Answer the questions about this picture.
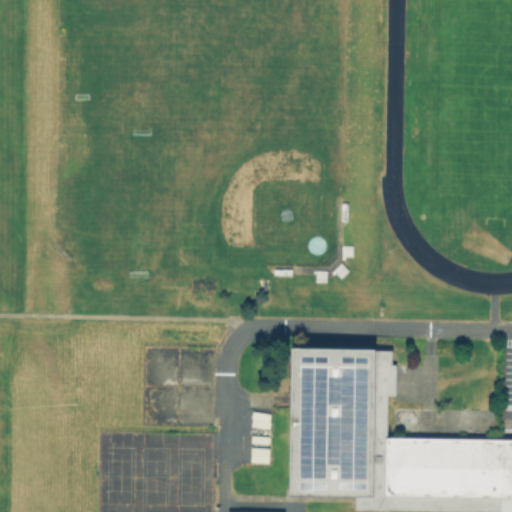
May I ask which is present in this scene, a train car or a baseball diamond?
baseball diamond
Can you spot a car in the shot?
No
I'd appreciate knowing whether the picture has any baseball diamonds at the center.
Yes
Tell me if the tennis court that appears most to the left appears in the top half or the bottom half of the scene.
bottom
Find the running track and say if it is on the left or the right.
right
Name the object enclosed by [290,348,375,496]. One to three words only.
building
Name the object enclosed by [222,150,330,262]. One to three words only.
baseball field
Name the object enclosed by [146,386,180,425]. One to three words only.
sports court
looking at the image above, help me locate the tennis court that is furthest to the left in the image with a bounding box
[101,433,140,512]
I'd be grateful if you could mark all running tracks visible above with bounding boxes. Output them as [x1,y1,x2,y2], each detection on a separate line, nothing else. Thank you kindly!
[383,0,512,294]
